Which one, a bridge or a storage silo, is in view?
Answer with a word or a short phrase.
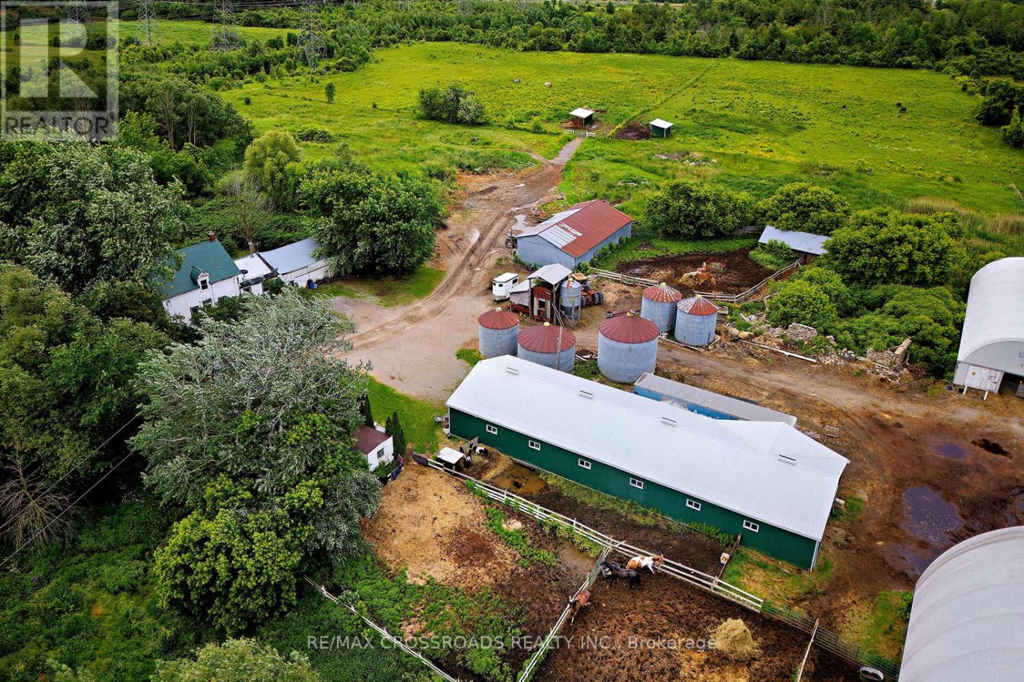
storage silo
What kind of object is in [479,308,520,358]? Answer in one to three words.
silo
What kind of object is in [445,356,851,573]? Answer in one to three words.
barn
